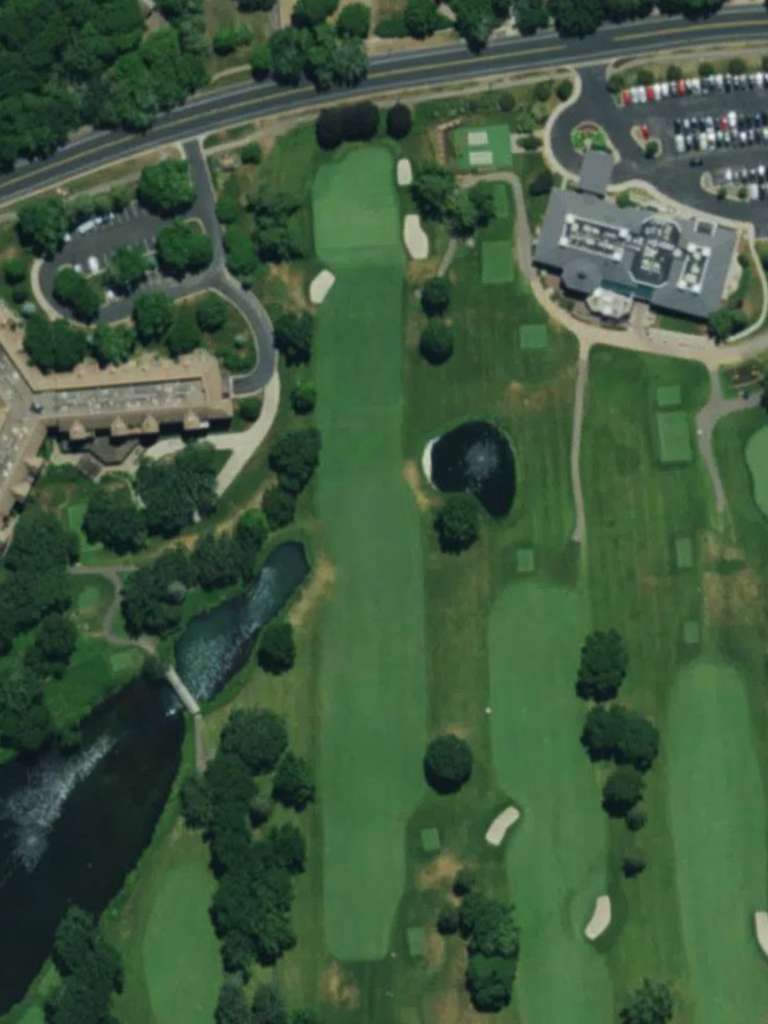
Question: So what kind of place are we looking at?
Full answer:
It's a golf course.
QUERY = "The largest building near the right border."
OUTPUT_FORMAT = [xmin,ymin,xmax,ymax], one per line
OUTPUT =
[533,152,738,329]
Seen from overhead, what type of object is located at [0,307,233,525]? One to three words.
building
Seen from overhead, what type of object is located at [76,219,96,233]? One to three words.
vehicle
